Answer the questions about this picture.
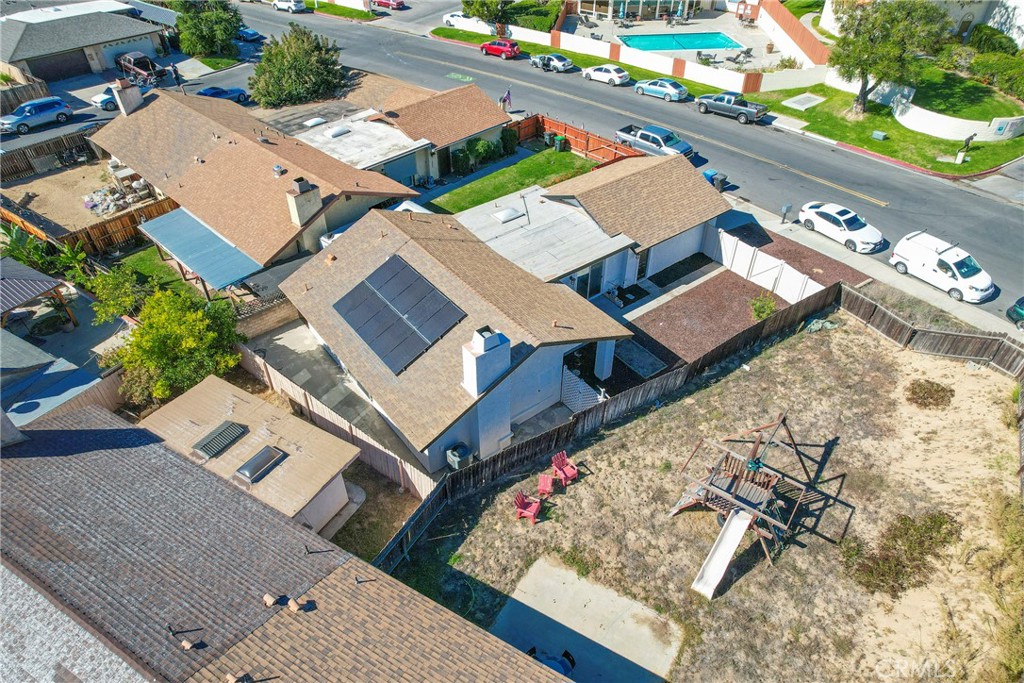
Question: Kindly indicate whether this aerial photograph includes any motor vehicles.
Yes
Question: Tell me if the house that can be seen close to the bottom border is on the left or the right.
left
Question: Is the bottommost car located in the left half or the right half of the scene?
right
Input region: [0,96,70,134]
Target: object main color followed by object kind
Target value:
blue car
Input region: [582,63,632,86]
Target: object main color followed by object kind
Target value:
white car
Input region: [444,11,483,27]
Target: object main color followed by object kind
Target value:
white car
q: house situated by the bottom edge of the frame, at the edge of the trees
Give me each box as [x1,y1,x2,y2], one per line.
[0,411,581,683]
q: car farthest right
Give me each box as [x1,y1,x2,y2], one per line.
[996,294,1024,334]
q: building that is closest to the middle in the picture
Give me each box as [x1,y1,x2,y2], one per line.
[278,155,733,474]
